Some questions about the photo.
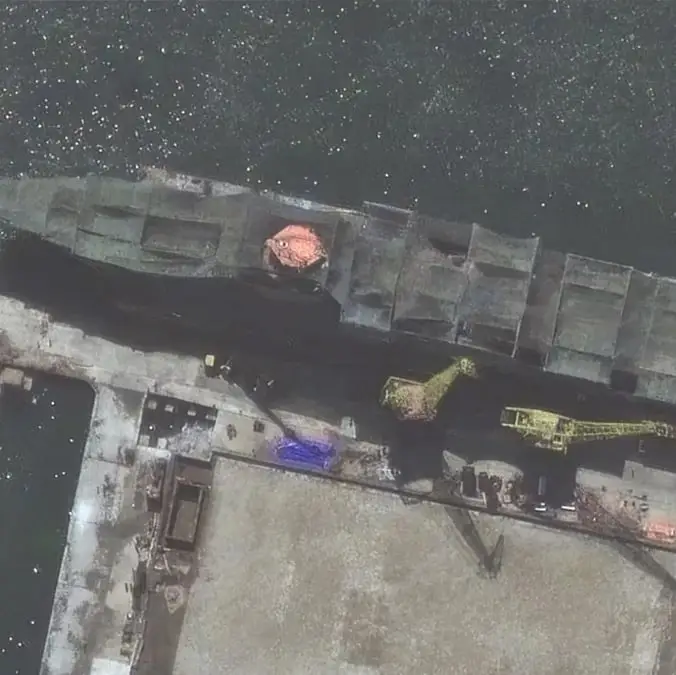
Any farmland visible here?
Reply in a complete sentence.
No, there is no farmland in the image.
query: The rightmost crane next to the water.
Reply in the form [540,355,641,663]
[500,406,676,456]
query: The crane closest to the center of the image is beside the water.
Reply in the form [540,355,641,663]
[383,360,477,425]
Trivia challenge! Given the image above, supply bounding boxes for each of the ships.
[0,167,676,403]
